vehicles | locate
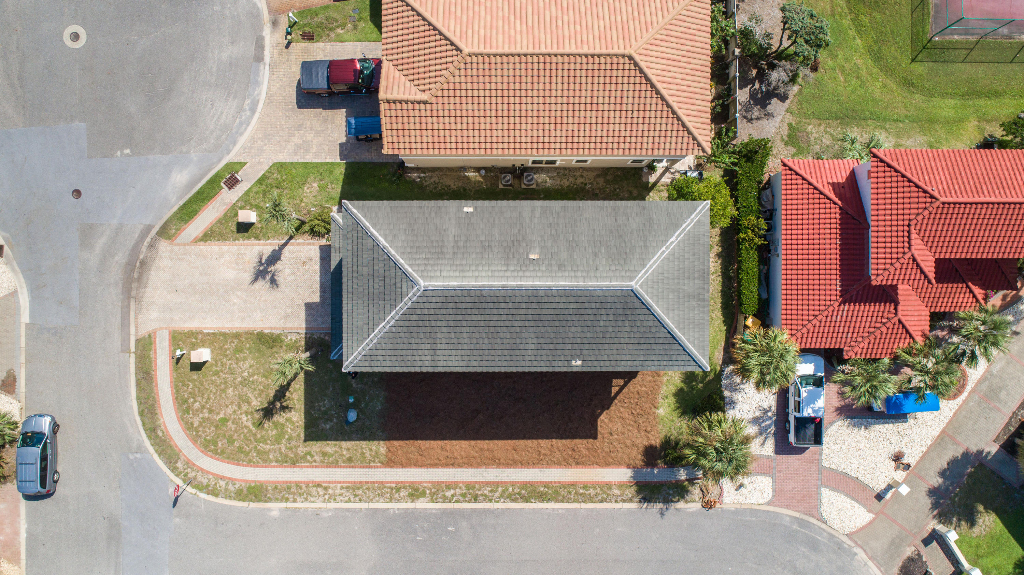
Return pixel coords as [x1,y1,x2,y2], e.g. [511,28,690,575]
[346,115,380,143]
[865,388,940,415]
[300,53,380,97]
[784,353,828,446]
[13,412,63,496]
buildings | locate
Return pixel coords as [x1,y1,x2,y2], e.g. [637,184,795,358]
[767,146,1024,360]
[375,0,713,174]
[329,198,712,374]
